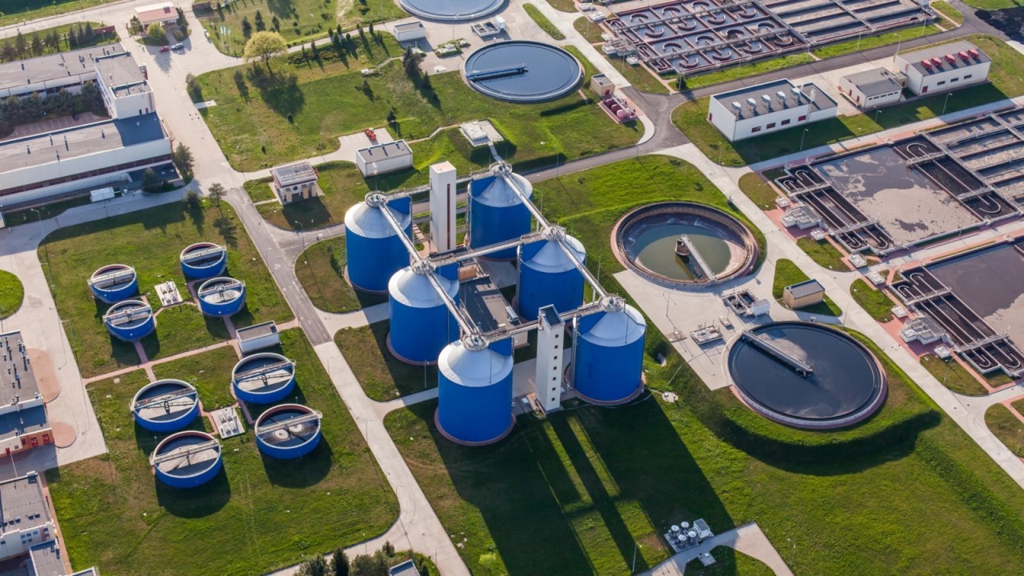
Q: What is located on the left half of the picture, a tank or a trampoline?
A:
tank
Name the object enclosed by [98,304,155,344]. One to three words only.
storage tank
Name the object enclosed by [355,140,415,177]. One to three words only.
house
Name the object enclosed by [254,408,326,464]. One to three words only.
storage tank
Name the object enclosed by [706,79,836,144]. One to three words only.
building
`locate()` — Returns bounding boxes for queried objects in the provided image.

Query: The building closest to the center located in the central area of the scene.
[458,275,530,348]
